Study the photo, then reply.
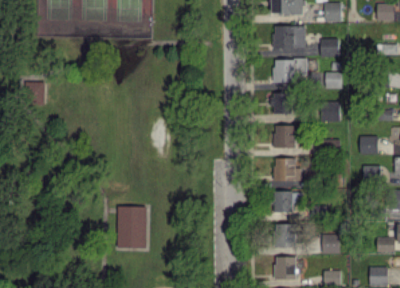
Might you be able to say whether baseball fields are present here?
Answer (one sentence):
No, there's no baseball field here.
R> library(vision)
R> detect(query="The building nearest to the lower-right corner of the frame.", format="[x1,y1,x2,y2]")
[370,267,388,287]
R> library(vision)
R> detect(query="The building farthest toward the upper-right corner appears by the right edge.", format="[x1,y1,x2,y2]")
[378,3,396,22]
